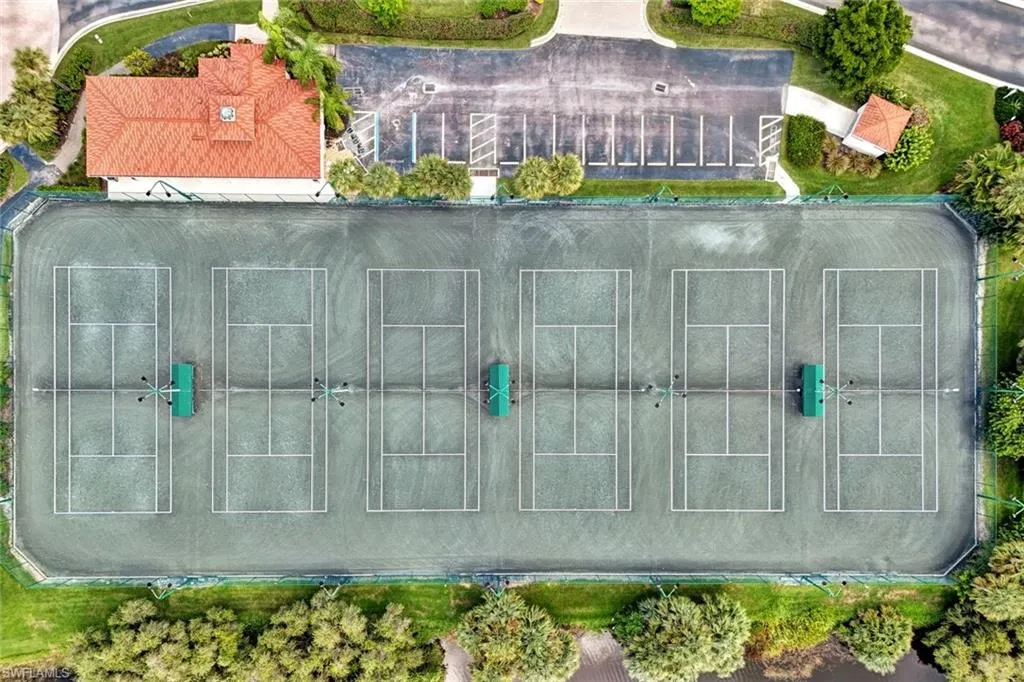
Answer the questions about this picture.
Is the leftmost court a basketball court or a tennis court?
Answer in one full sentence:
I'd identify the leftmost court as a tennis court.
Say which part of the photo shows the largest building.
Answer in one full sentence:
The largest building appears toward the top left of the photo.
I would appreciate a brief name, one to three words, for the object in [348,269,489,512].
tennis court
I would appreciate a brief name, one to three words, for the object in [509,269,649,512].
tennis court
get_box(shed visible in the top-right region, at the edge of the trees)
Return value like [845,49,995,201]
[843,93,914,158]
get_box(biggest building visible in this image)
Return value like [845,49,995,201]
[85,42,327,185]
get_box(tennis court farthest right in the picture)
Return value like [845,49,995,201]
[824,269,957,513]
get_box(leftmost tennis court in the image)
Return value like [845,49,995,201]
[29,266,172,514]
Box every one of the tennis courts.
[348,269,489,512]
[193,267,345,513]
[509,269,649,512]
[824,269,957,513]
[29,266,172,514]
[670,269,802,512]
